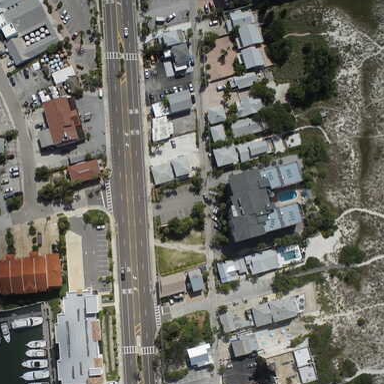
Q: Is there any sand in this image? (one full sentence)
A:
Yes, sand shows up in the scene.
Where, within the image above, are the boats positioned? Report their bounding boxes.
[0,322,10,343]
[24,349,47,357]
[17,368,50,380]
[11,317,45,330]
[21,360,48,368]
[26,340,47,349]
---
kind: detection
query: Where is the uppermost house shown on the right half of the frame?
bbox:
[229,9,255,28]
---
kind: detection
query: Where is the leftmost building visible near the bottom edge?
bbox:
[55,288,102,384]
